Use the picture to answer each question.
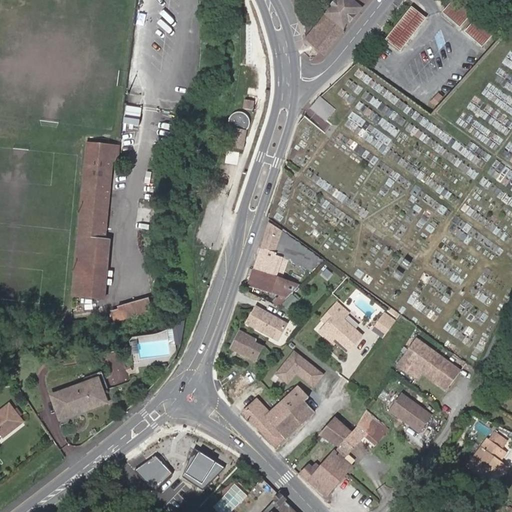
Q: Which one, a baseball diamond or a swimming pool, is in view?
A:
swimming pool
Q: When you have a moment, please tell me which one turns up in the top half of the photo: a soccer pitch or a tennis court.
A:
soccer pitch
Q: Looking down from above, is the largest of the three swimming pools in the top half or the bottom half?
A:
bottom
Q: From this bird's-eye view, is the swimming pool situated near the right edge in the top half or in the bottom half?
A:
bottom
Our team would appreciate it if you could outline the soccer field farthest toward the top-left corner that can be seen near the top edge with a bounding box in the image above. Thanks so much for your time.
[0,0,136,141]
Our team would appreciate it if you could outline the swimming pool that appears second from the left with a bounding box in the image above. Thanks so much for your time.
[356,298,376,320]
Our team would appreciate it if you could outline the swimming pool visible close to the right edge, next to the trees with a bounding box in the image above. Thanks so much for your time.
[473,418,494,440]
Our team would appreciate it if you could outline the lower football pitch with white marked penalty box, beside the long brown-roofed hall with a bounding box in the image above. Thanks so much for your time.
[0,134,83,306]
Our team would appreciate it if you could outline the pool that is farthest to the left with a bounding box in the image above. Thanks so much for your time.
[132,329,176,372]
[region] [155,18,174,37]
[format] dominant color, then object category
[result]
white vehicle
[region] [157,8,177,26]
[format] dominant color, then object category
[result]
white vehicle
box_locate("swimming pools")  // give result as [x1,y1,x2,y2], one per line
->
[473,418,494,440]
[132,329,176,372]
[356,298,376,320]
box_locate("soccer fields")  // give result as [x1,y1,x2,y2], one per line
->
[0,0,136,141]
[0,134,83,306]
